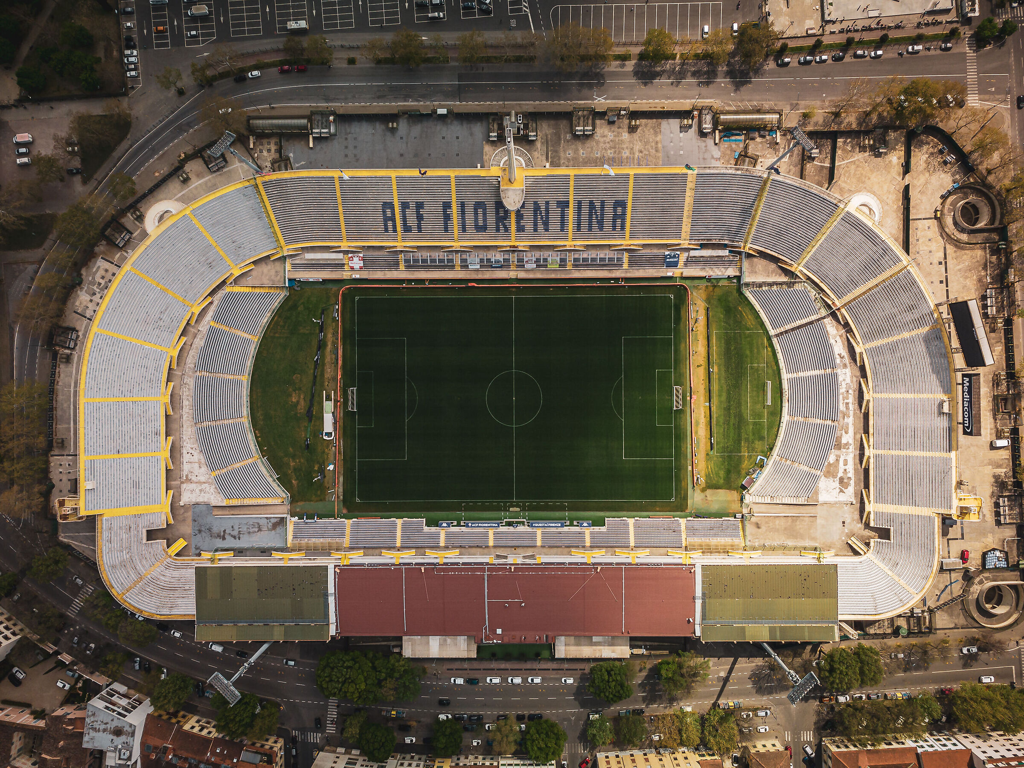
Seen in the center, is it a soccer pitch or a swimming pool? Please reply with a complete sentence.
Visible in the center is a soccer pitch.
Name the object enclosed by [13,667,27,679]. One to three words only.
vehicle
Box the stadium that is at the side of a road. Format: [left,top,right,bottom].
[54,146,984,659]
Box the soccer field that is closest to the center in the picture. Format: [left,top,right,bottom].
[341,286,688,517]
